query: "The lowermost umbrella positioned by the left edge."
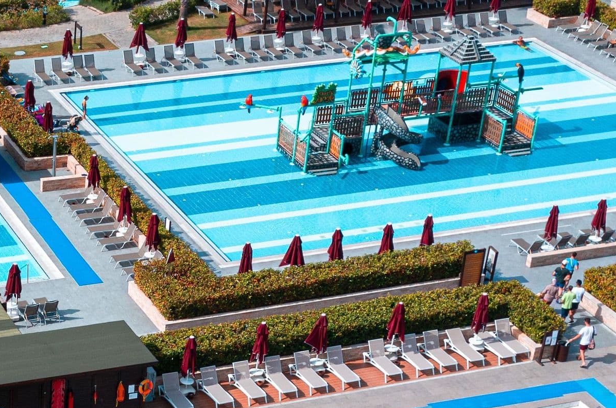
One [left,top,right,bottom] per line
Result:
[5,262,22,326]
